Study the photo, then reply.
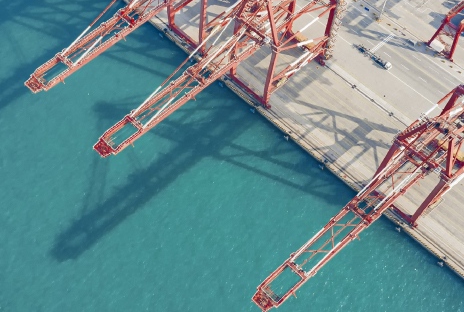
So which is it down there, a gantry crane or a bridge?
gantry crane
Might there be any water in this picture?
Yes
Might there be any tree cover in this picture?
No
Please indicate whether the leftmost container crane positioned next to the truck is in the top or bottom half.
top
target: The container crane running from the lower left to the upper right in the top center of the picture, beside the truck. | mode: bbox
[93,0,345,159]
